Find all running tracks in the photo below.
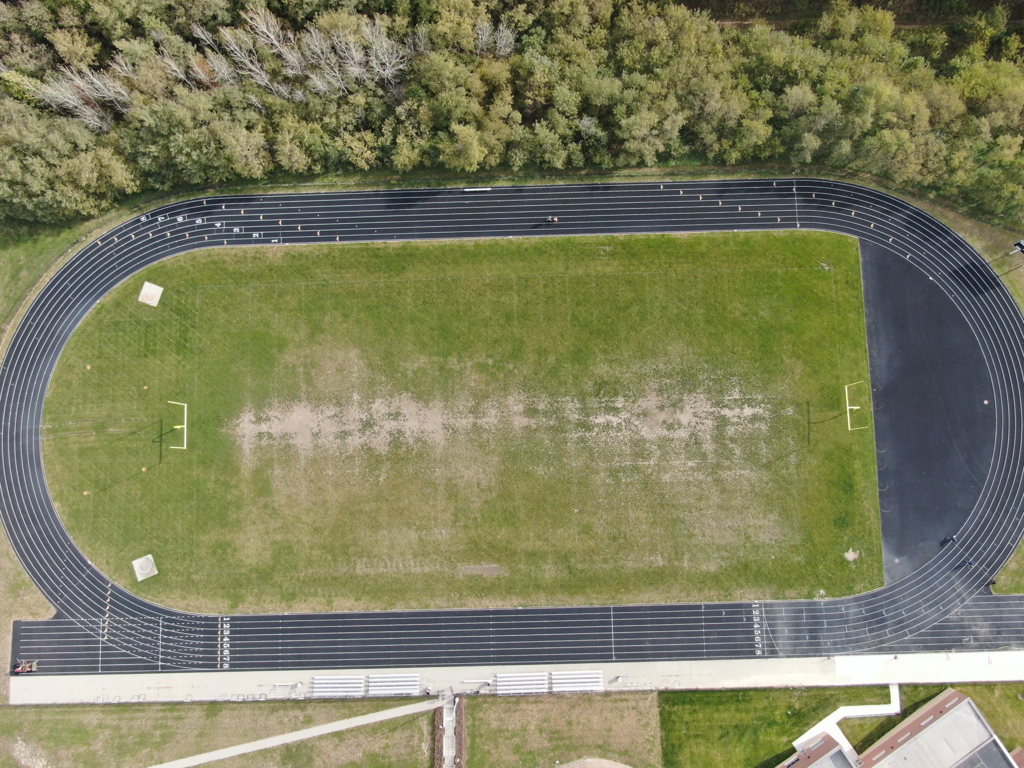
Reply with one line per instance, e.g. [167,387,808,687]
[0,178,1024,678]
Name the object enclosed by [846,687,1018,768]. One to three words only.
building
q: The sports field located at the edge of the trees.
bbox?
[42,230,884,614]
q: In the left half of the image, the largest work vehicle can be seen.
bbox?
[12,661,35,676]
